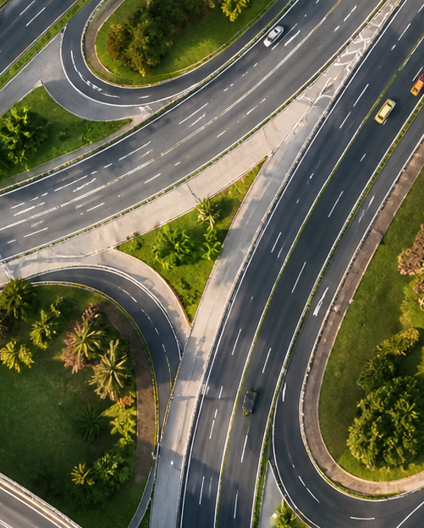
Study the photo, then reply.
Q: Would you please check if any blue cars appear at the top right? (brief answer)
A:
No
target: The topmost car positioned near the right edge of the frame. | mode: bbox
[410,72,424,96]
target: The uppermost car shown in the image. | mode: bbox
[261,24,285,49]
